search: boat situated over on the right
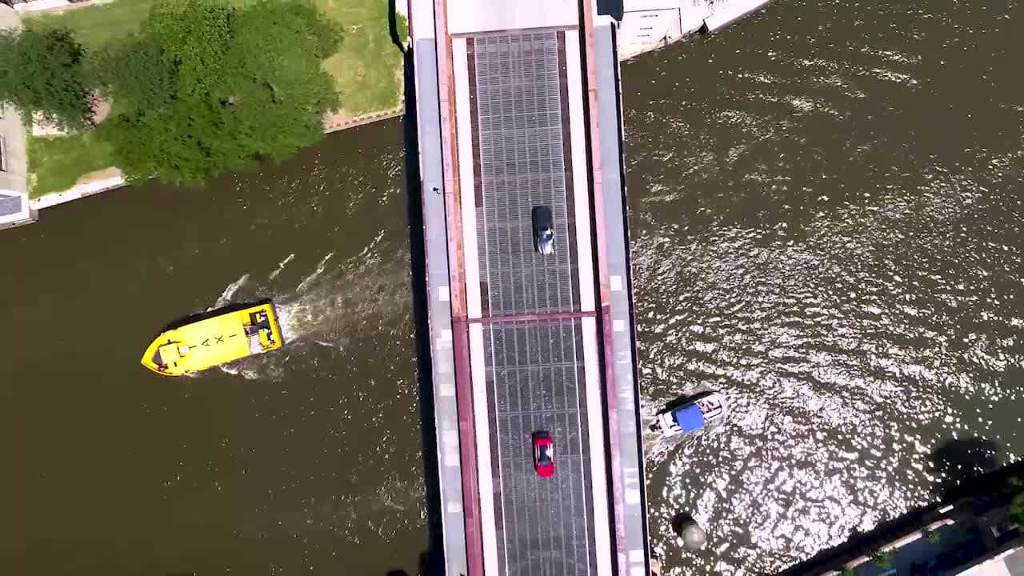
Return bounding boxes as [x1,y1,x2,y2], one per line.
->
[656,395,725,434]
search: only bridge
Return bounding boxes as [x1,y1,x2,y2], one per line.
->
[409,0,653,576]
